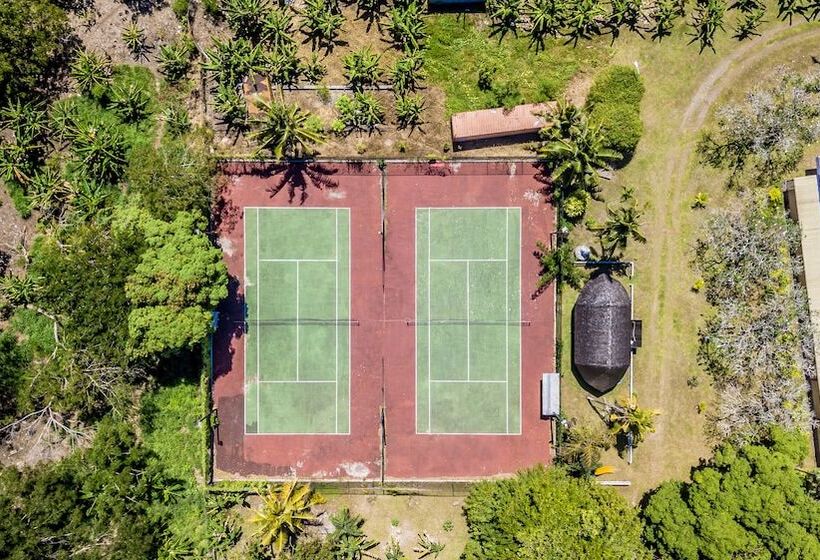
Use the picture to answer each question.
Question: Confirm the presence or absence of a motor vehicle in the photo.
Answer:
No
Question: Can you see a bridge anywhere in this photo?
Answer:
No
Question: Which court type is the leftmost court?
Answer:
tennis court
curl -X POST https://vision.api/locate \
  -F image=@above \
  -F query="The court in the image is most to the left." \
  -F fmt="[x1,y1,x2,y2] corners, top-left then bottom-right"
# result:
[213,162,383,481]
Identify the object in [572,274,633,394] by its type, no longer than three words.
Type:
shed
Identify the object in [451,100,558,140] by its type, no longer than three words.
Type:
shed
